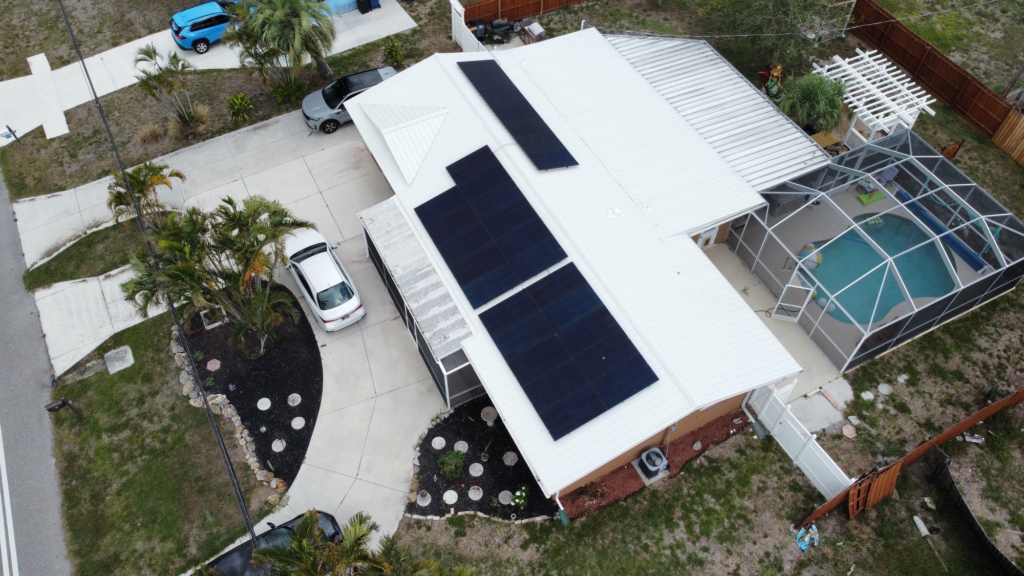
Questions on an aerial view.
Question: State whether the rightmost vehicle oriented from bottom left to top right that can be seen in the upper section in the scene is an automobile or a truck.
automobile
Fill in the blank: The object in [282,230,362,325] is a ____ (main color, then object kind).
white car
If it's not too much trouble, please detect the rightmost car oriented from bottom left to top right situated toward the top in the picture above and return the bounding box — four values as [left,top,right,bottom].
[297,65,391,133]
